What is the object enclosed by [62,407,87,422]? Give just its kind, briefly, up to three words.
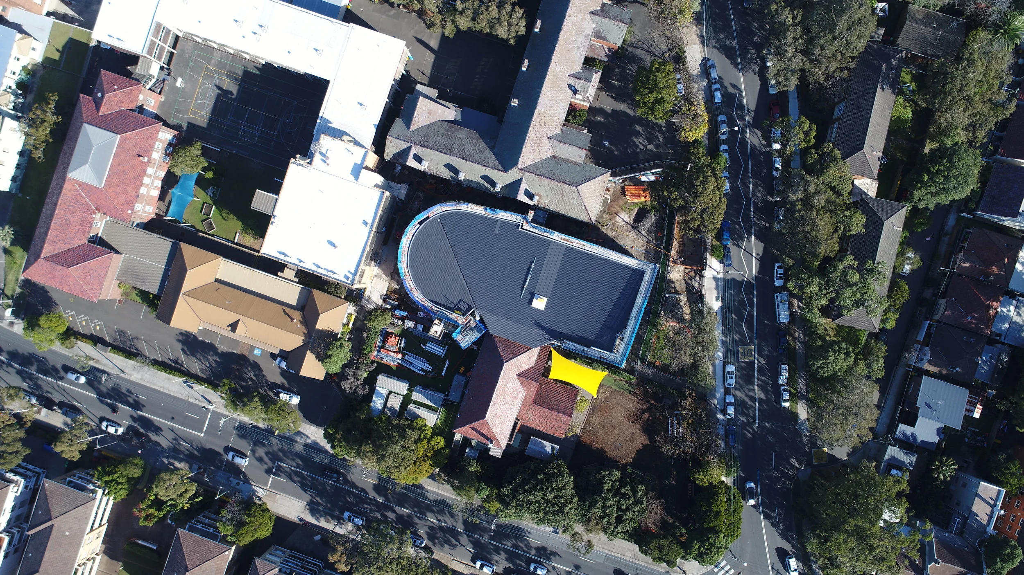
car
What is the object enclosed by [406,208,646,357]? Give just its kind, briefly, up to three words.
building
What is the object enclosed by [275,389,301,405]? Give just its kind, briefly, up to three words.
vehicle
